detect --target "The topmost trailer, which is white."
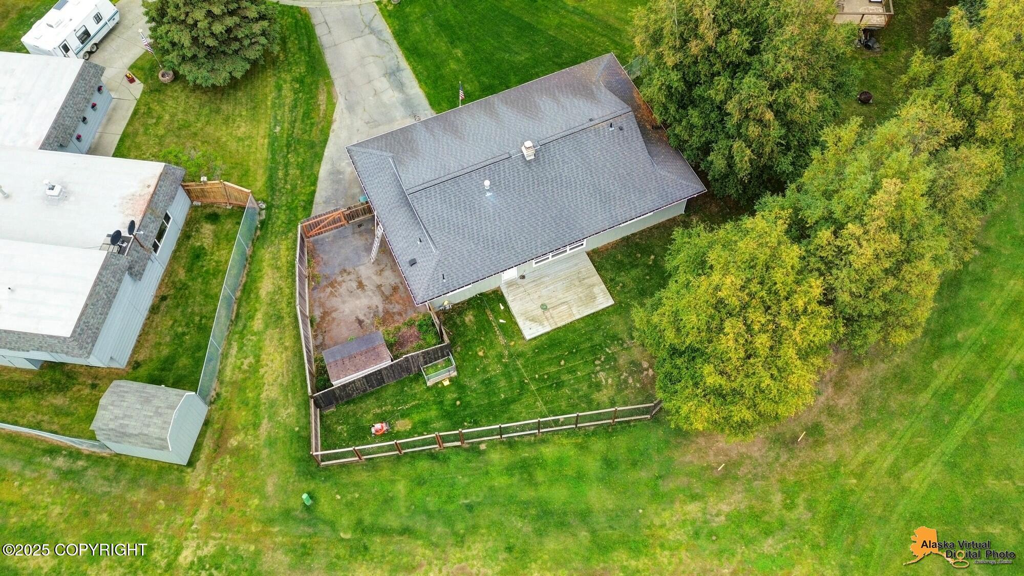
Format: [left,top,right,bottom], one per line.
[25,0,123,60]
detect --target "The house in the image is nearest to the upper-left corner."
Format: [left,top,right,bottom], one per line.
[0,51,191,370]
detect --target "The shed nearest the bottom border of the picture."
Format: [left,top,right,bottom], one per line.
[87,380,207,465]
